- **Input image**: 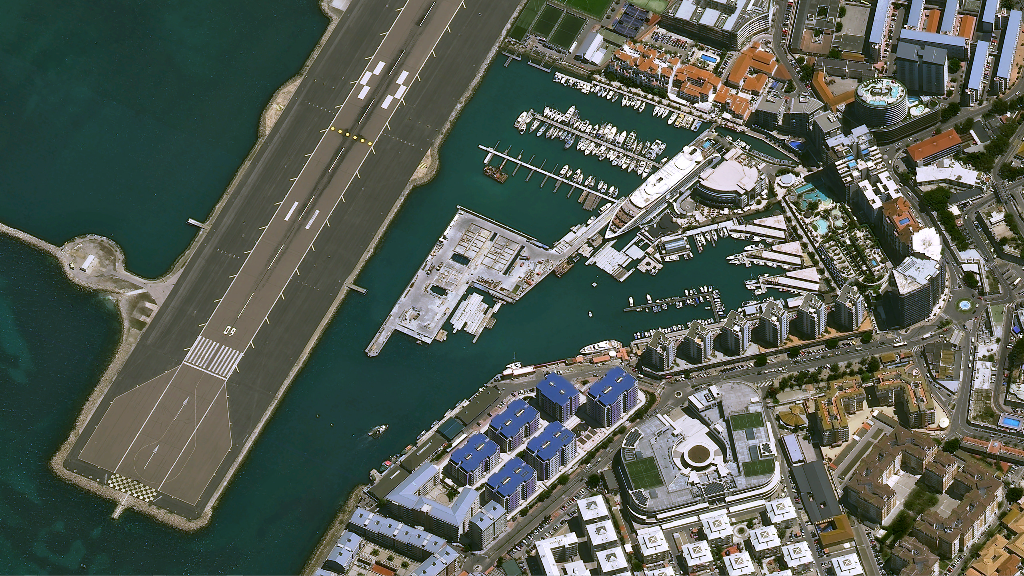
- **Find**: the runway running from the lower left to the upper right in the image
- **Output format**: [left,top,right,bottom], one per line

[78,0,462,505]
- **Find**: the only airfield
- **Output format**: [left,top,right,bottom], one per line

[0,0,527,532]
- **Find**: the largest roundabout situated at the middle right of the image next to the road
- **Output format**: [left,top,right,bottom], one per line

[942,287,988,323]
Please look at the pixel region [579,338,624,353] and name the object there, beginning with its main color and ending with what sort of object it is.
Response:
white boat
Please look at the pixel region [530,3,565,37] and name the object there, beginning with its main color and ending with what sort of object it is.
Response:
green soccer field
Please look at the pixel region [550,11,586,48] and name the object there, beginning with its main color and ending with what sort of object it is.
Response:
green soccer field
